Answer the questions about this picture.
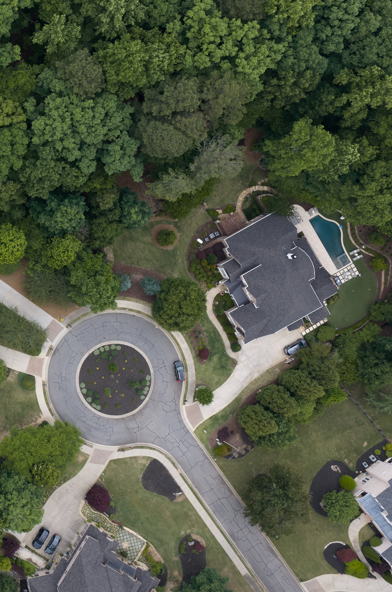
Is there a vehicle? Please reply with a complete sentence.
Yes, the picture does show a vehicle.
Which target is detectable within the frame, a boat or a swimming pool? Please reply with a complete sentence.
Looking from above, you can make out a swimming pool.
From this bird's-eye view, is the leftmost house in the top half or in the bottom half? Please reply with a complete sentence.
You can find the leftmost house in the bottom half.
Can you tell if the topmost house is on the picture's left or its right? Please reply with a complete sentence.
The topmost house sits on the right side.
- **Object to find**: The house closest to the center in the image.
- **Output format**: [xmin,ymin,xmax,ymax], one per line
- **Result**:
[214,210,343,345]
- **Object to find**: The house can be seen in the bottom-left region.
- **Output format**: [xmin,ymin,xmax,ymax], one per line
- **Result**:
[26,516,161,592]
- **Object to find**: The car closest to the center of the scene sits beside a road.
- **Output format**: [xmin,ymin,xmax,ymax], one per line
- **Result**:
[175,362,187,383]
